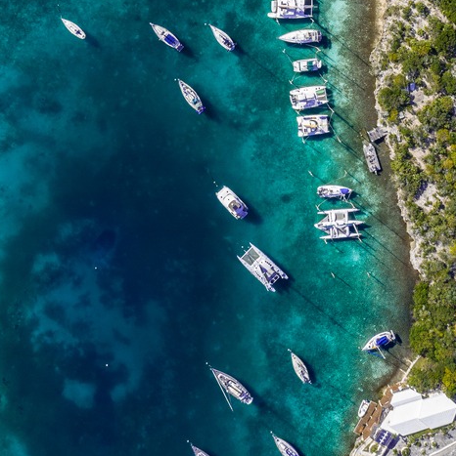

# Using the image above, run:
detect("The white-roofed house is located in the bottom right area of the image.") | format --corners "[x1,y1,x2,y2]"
[381,388,456,436]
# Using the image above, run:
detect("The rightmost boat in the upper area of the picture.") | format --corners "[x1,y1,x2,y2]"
[363,142,382,174]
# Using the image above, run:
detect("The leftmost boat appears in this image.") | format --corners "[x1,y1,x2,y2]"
[62,19,87,40]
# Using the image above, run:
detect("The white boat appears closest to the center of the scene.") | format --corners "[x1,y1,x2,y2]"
[214,183,250,222]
